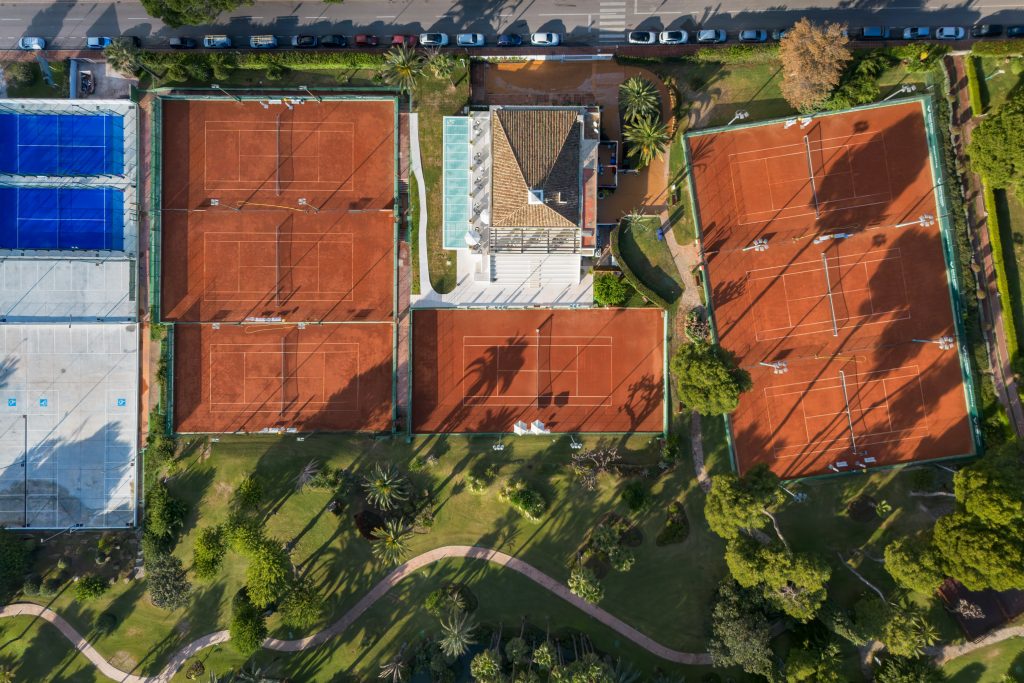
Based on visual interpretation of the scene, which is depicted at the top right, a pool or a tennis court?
tennis court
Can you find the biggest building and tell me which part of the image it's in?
top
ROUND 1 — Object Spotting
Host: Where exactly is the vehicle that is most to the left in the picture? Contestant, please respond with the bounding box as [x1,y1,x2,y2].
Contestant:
[16,35,44,50]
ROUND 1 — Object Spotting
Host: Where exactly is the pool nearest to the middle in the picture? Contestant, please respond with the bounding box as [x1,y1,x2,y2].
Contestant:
[443,116,470,249]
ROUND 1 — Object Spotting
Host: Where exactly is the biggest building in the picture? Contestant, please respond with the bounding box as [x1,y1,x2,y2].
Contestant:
[488,105,599,259]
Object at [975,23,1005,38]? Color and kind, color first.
black car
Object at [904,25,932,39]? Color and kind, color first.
blue car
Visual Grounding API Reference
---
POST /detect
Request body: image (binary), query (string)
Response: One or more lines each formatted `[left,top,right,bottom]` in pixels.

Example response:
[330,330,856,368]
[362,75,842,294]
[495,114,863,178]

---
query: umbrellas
[533,421,544,433]
[515,421,526,433]
[465,231,482,248]
[477,208,488,224]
